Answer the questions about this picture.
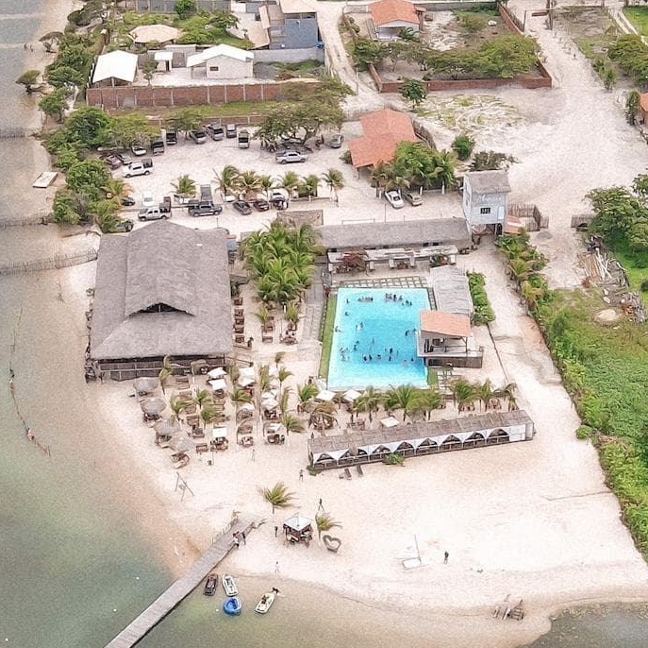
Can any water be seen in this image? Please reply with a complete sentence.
Yes, some water is visible.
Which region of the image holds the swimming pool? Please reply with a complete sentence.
The swimming pool is located in the center region of the scene.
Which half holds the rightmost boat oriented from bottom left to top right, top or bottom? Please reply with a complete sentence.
The bottom half of the photo is where the rightmost boat oriented from bottom left to top right is.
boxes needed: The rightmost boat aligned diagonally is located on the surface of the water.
[253,591,274,616]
